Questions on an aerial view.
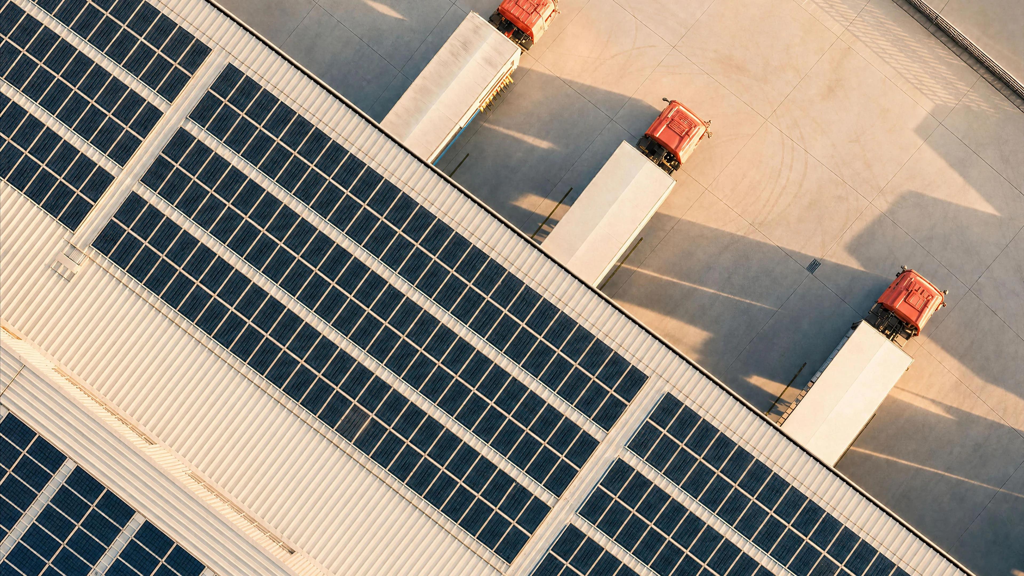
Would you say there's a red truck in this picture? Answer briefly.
Yes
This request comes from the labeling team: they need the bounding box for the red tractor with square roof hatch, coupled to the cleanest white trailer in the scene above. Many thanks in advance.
[859,259,955,353]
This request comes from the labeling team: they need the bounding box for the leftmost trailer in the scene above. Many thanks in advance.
[381,9,525,171]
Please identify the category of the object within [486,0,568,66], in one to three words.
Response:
truck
